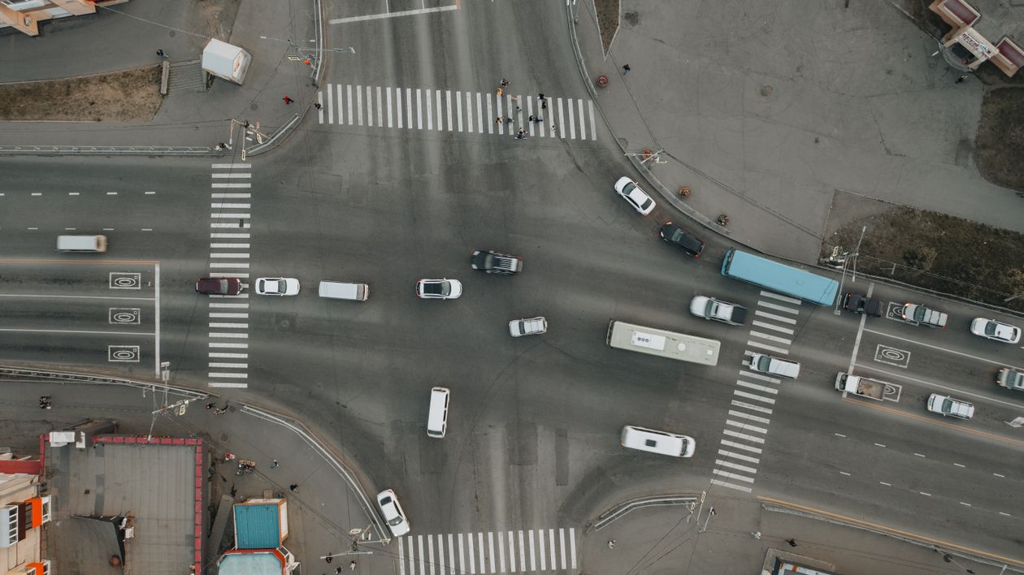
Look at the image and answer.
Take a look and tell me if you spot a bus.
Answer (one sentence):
Yes, the photo shows a bus.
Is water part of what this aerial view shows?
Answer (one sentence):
No, no water is visible.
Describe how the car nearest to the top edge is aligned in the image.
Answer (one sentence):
In this picture, the car nearest to the top edge is oriented diagonally.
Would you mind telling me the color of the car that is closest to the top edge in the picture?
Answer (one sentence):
From above, the car that is closest to the top edge appears white.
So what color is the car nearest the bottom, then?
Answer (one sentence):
From above, the car nearest the bottom appears white.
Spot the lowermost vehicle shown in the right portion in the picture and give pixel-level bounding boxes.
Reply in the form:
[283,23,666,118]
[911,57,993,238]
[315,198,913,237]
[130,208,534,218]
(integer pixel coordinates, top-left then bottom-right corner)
[618,423,696,458]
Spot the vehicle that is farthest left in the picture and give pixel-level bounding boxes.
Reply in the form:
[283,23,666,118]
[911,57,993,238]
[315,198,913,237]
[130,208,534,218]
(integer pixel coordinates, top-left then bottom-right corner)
[54,233,110,253]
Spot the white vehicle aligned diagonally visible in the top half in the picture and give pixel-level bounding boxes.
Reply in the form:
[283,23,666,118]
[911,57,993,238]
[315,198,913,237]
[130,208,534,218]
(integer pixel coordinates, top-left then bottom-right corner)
[613,174,658,218]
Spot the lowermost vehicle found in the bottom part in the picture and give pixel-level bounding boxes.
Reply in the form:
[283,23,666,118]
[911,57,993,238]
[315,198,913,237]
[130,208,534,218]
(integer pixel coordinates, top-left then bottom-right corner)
[377,487,409,536]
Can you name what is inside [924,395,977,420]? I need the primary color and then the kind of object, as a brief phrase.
white car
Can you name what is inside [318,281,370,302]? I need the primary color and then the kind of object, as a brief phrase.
white vehicle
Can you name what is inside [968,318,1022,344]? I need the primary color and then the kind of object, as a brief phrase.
white car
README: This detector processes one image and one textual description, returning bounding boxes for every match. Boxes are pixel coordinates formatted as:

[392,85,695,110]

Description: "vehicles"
[54,233,110,253]
[426,385,450,438]
[830,372,887,401]
[924,395,977,420]
[618,423,696,458]
[745,352,802,379]
[508,317,548,337]
[604,319,720,365]
[688,299,749,325]
[255,276,301,297]
[613,174,658,218]
[968,318,1022,344]
[377,487,409,536]
[900,305,950,329]
[470,251,523,274]
[994,369,1024,391]
[416,278,463,299]
[193,276,243,297]
[841,294,886,317]
[714,248,837,305]
[318,281,370,302]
